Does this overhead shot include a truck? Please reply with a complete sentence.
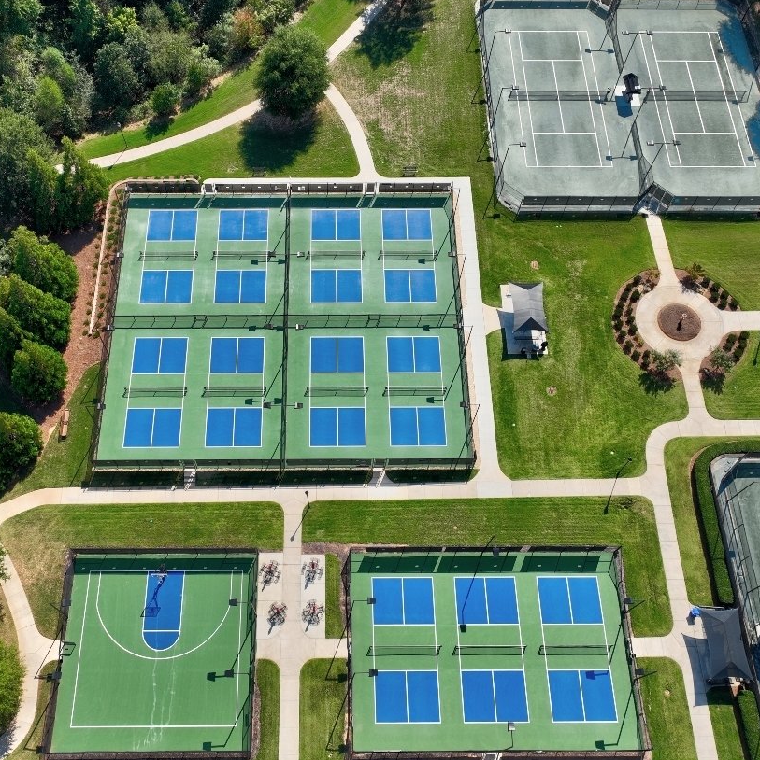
No, no truck can be seen from above.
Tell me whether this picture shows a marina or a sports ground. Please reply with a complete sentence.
What you see here is a sports ground.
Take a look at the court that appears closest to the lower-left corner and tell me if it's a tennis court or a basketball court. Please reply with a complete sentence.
What you see as the court that appears closest to the lower-left corner is a basketball court.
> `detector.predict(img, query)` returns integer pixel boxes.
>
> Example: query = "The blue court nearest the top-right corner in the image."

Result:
[381,208,438,302]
